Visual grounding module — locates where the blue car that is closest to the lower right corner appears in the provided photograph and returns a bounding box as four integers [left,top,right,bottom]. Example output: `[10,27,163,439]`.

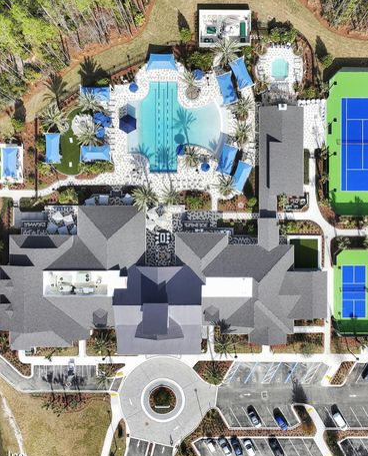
[274,412,288,431]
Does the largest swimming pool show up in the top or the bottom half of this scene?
top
